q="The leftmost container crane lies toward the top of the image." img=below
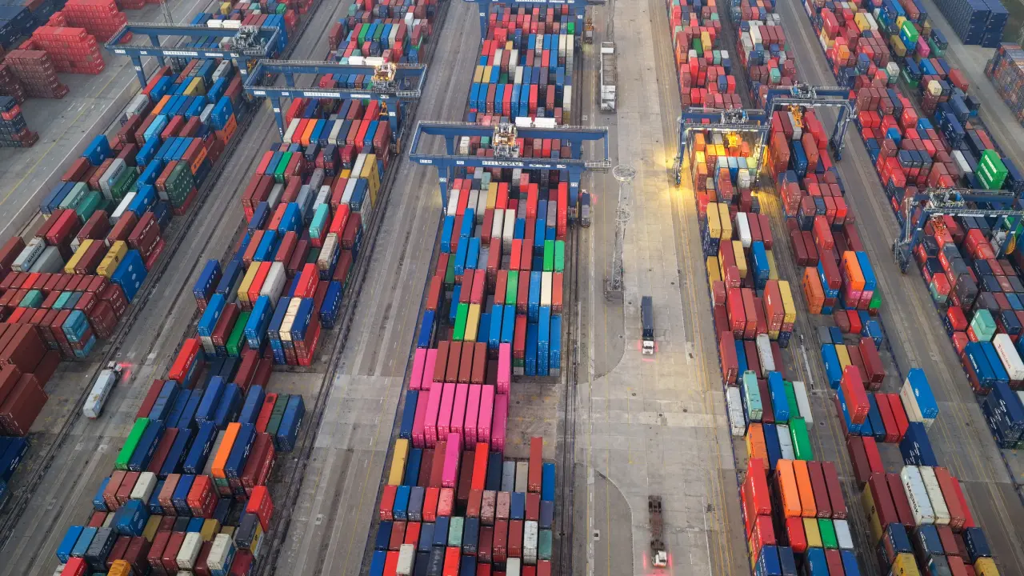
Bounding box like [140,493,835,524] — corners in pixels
[103,14,281,104]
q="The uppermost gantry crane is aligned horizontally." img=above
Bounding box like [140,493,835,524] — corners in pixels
[452,0,606,57]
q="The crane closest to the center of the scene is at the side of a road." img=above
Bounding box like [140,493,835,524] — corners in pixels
[408,109,615,224]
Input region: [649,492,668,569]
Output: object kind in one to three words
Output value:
vehicle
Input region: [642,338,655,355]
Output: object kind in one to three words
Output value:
vehicle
